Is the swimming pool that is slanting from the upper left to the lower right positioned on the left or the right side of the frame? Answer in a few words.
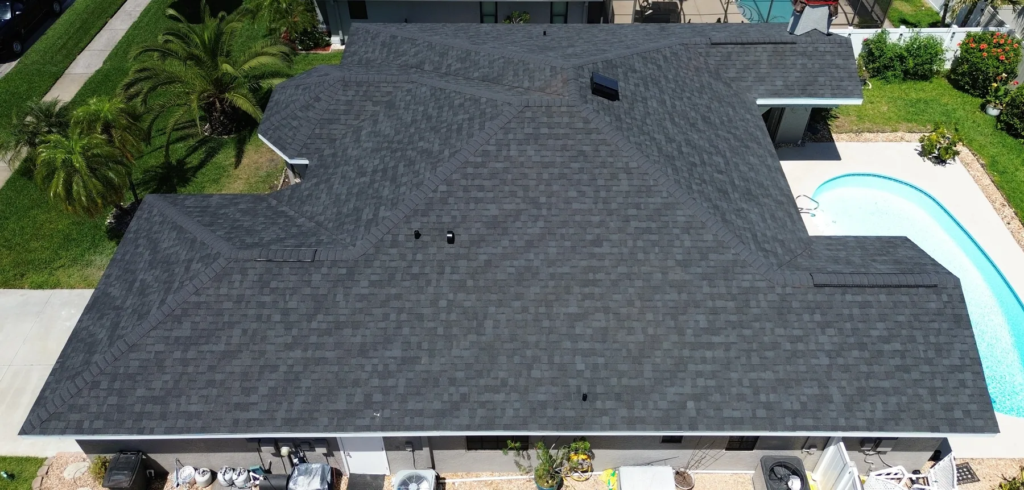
right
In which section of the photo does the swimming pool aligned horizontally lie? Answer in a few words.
top right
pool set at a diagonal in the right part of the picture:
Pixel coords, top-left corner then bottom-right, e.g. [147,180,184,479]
[809,171,1024,420]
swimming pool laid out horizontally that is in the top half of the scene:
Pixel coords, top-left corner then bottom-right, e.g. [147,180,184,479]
[735,0,797,22]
